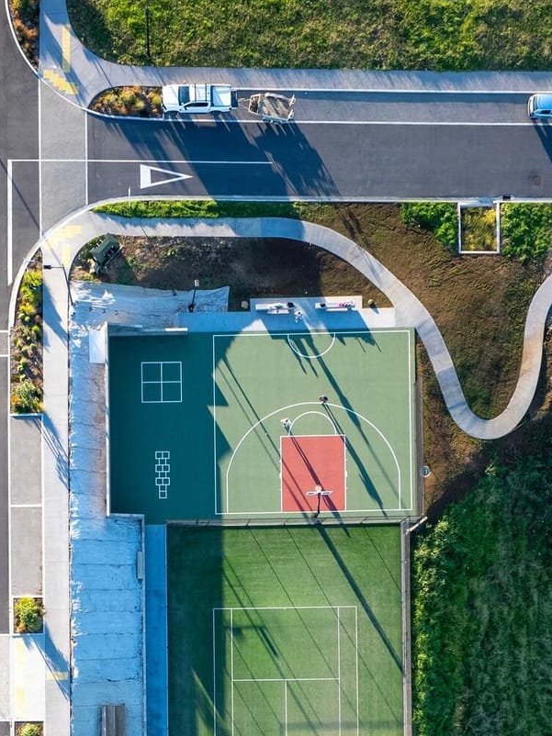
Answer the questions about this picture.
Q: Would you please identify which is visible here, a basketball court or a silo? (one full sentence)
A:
I can see a basketball court in this picture.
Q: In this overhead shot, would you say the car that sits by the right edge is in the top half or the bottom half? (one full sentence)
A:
The car that sits by the right edge is in the top half of the image.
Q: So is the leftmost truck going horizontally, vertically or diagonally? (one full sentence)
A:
In this picture, the leftmost truck is oriented horizontally.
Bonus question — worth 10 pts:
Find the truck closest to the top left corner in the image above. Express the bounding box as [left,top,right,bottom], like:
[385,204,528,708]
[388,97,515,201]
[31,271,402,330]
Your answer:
[164,80,238,116]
